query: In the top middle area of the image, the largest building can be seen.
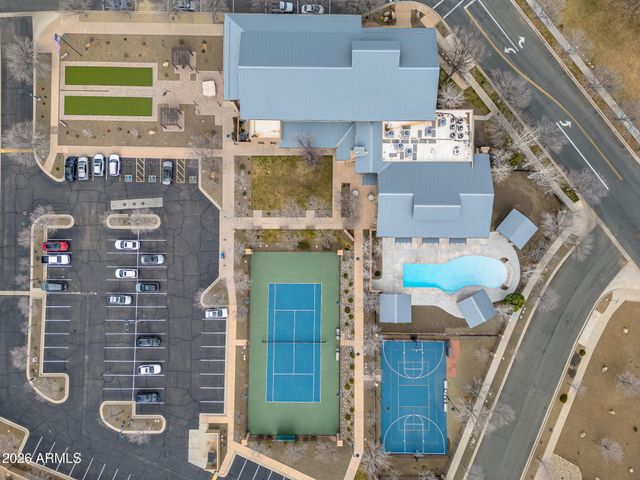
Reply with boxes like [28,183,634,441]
[224,13,494,244]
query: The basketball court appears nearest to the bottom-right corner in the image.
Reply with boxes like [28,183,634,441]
[381,341,448,454]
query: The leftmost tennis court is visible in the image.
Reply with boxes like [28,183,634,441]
[249,252,341,437]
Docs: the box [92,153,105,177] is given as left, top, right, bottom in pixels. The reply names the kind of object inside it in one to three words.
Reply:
vehicle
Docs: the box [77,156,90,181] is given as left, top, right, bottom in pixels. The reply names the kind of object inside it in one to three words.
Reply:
vehicle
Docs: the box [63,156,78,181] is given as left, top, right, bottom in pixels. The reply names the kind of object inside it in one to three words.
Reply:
car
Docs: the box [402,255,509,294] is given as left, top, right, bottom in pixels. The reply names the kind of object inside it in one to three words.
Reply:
swimming pool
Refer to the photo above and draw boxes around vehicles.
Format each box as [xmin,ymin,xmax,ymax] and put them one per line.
[161,161,173,184]
[138,364,162,375]
[136,392,161,403]
[137,336,162,348]
[77,156,90,181]
[109,295,133,306]
[41,254,71,266]
[42,240,69,252]
[141,254,166,265]
[301,2,324,13]
[116,239,140,250]
[136,282,160,293]
[63,156,78,181]
[92,153,105,177]
[266,0,294,13]
[41,281,69,292]
[204,308,228,319]
[108,153,121,177]
[174,0,197,11]
[116,268,139,279]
